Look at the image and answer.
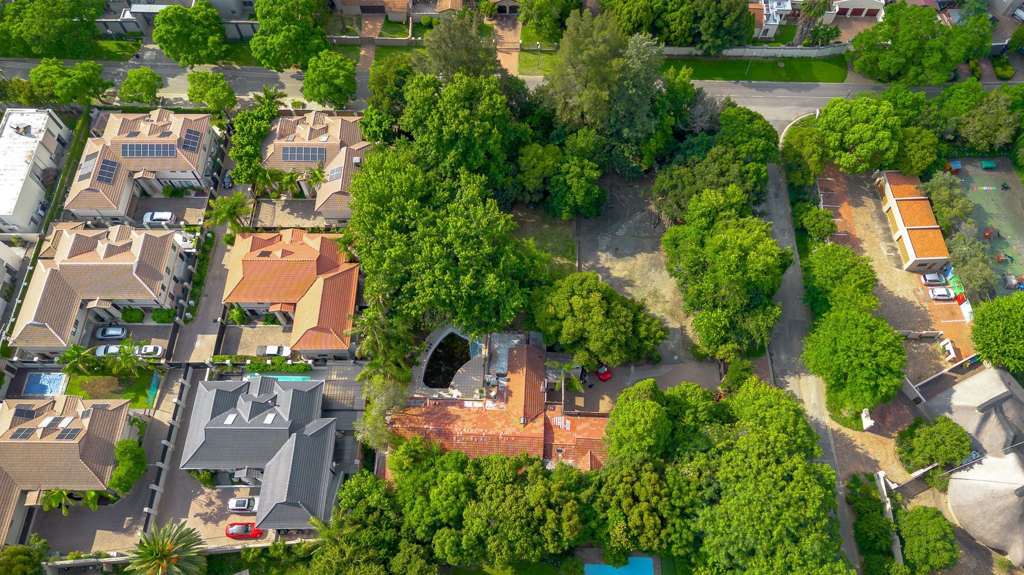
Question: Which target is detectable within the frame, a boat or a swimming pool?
swimming pool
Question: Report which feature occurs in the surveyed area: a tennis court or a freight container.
tennis court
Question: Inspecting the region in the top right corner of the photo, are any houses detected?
Yes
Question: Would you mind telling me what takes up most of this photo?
trees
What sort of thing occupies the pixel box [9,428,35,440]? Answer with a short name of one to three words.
solar panel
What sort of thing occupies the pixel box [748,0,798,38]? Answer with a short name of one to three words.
house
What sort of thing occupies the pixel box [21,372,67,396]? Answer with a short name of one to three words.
swimming pool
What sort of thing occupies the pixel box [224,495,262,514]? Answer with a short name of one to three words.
car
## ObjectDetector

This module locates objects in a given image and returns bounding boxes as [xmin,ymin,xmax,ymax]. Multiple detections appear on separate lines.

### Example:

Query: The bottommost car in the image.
[224,520,265,539]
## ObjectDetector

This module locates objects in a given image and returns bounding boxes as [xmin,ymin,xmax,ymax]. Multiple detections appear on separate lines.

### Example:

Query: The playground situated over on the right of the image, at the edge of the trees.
[939,156,1024,308]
